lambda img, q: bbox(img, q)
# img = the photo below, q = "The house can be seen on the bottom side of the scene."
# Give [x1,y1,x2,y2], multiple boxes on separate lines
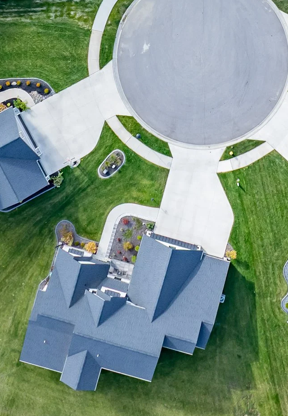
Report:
[20,225,232,393]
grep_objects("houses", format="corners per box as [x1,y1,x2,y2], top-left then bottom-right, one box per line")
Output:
[0,105,55,210]
[20,225,232,393]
